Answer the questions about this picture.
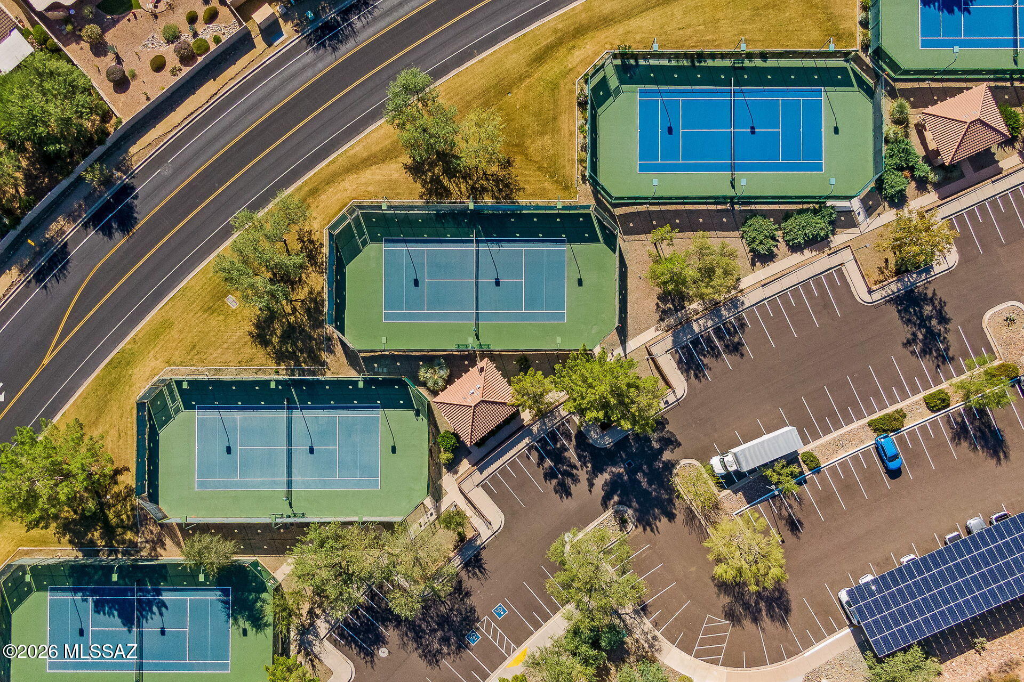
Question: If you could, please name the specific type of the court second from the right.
tennis court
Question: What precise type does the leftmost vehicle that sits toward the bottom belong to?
truck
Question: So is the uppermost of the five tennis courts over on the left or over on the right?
right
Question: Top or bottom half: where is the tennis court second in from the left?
bottom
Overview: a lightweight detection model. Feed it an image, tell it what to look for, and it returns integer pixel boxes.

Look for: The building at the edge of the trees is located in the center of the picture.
[433,359,520,446]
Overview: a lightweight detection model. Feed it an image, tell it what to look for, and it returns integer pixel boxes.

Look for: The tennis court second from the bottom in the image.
[147,376,432,518]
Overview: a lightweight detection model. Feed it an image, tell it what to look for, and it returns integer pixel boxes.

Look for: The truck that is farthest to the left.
[707,426,809,476]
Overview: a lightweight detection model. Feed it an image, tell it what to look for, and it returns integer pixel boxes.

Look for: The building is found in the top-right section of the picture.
[915,82,1012,165]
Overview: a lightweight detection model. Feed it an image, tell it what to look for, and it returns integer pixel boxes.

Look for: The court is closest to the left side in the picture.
[0,558,281,682]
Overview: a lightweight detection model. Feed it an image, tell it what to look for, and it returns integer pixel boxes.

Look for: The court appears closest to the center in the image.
[335,210,615,350]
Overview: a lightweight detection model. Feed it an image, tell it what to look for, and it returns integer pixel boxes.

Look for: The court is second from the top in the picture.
[587,58,873,202]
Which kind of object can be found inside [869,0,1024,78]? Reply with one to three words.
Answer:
tennis court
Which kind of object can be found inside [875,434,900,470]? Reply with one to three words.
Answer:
car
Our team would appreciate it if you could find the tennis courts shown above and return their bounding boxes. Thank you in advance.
[0,558,281,682]
[869,0,1024,78]
[587,58,873,202]
[335,210,615,350]
[147,376,432,518]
